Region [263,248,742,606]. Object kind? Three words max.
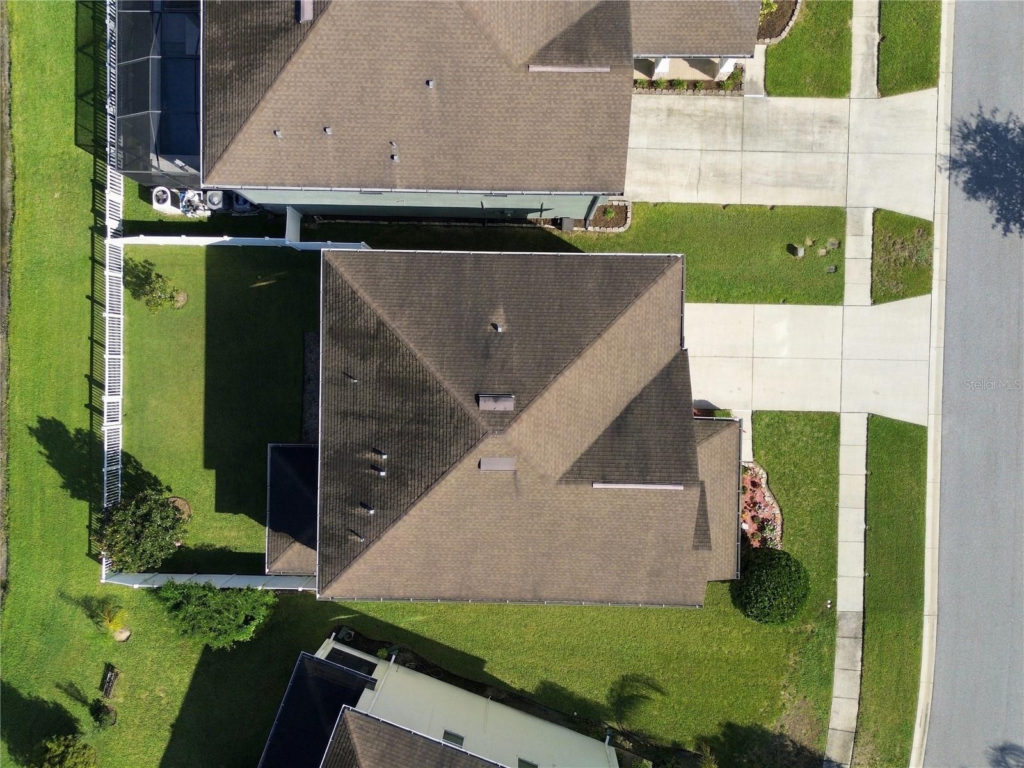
house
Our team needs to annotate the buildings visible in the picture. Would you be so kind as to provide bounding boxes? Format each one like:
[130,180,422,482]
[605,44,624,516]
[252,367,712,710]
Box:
[259,626,615,768]
[203,0,760,225]
[263,248,742,606]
